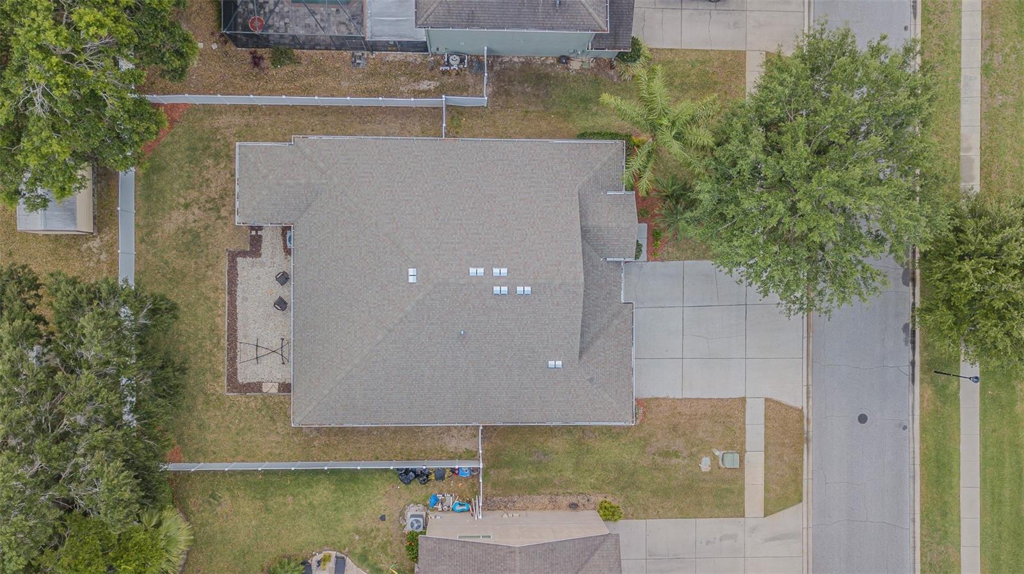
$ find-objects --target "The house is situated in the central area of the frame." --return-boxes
[234,134,638,429]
